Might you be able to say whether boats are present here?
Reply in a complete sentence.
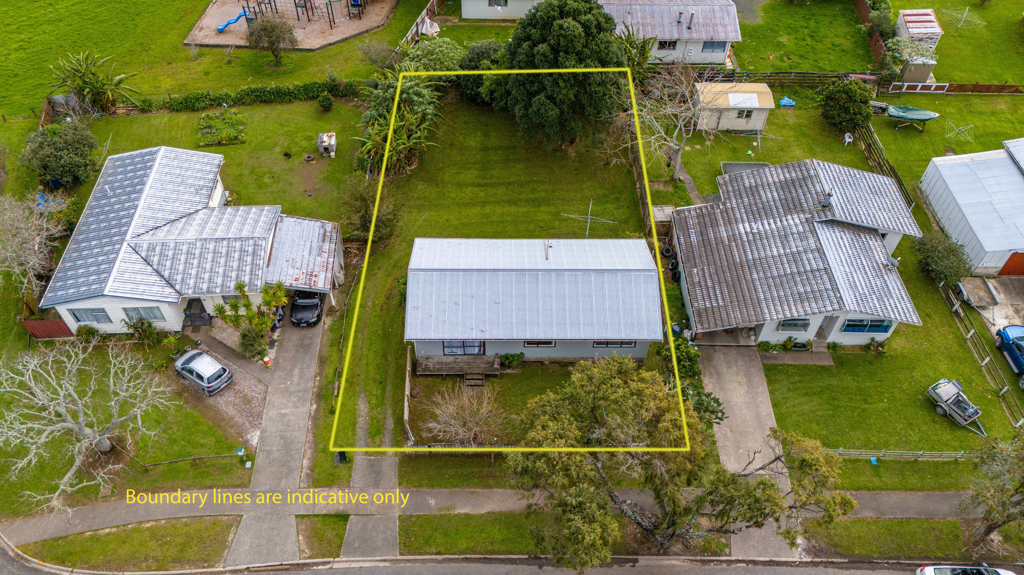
Yes, I can see a boat in this picture.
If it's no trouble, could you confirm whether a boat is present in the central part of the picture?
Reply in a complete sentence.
No, no boat appears in the central part of the picture.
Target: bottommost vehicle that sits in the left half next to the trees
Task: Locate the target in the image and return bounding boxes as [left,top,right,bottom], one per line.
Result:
[170,345,235,398]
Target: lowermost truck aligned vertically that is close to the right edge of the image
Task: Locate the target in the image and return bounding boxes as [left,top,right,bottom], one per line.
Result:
[993,320,1024,395]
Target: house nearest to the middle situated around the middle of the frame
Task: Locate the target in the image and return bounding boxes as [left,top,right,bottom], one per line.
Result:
[403,234,664,359]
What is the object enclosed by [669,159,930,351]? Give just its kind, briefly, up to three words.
house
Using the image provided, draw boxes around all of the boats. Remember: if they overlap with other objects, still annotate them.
[886,103,941,132]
